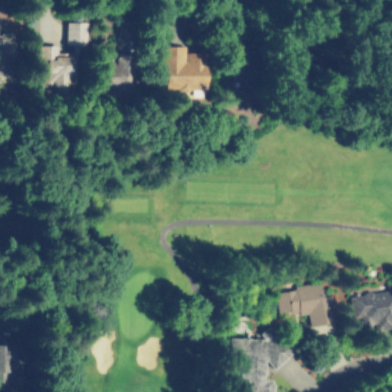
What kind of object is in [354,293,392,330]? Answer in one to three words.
house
